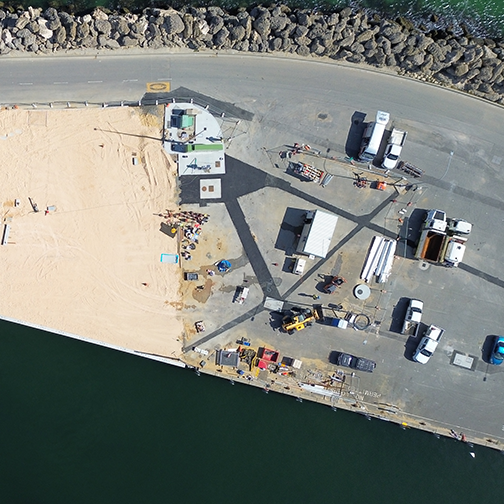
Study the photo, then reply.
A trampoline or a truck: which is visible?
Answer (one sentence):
I can see a truck in this picture.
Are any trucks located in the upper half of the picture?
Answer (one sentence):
Yes, looking in the upper half of the picture, one can make out a truck.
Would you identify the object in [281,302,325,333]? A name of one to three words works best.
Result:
work vehicle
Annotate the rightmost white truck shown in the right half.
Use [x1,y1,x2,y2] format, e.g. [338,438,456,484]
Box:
[442,218,471,266]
